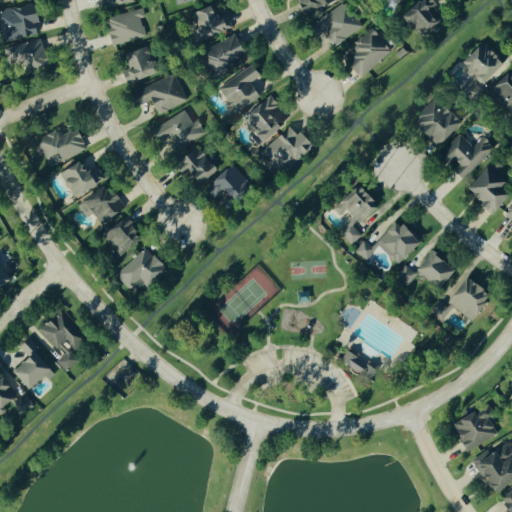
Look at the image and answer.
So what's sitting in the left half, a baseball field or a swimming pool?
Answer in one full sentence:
You can see a swimming pool in the left half.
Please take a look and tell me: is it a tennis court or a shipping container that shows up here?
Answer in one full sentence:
Visible in the photo is a tennis court.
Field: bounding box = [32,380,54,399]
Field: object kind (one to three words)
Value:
swimming pool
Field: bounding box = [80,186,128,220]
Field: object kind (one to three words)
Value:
house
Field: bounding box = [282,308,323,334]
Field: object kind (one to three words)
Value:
playground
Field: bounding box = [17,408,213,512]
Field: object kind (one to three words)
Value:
pond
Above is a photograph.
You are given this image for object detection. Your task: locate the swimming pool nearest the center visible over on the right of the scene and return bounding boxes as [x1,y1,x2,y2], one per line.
[326,209,351,233]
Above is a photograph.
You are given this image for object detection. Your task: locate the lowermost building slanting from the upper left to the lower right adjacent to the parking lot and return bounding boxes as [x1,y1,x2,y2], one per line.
[340,348,379,382]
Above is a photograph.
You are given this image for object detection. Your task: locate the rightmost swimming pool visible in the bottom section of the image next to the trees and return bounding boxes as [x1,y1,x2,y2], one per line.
[447,310,470,332]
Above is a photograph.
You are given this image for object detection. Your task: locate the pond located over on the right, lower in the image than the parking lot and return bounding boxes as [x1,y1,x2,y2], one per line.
[265,454,421,512]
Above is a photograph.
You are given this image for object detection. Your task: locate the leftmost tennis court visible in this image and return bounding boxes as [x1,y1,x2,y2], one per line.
[210,264,280,334]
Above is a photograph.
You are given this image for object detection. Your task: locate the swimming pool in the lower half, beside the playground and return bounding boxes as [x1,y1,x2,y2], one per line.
[338,301,418,371]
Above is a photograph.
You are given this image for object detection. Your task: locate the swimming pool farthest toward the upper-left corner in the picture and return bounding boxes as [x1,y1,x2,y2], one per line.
[50,172,74,206]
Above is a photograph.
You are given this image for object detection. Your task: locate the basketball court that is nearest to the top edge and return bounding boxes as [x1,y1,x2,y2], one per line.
[292,261,327,280]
